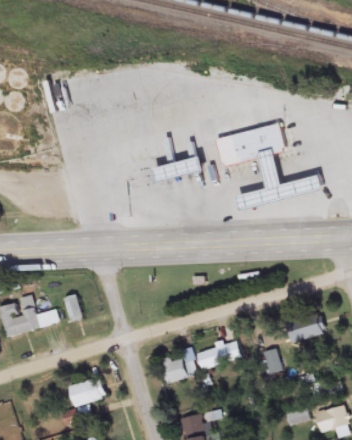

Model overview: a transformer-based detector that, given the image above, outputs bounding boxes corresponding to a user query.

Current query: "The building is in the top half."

[218,122,286,166]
